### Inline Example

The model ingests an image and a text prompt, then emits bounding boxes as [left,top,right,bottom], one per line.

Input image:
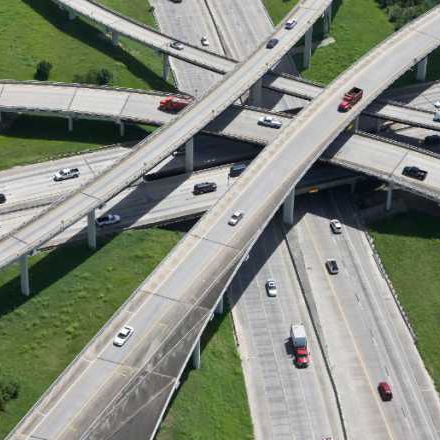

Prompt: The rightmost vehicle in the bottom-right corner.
[378,381,392,402]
